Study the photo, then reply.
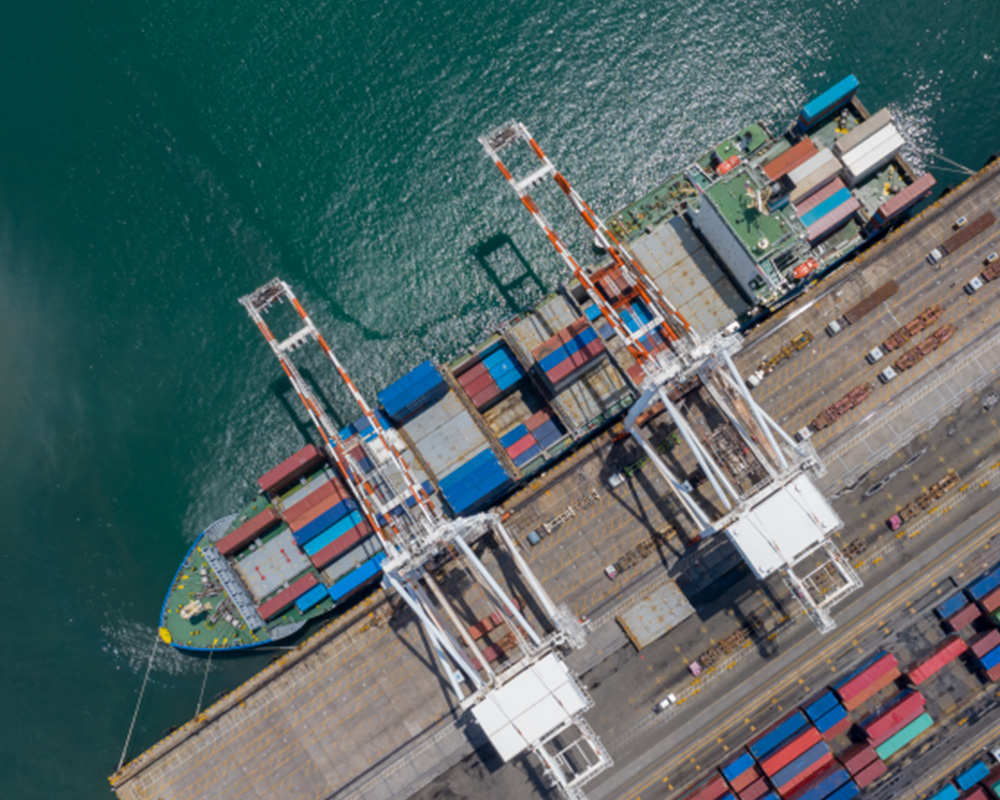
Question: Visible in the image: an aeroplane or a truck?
truck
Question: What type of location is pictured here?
port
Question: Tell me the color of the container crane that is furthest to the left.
white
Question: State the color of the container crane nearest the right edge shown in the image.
white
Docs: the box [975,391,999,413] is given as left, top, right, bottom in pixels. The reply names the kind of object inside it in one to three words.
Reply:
car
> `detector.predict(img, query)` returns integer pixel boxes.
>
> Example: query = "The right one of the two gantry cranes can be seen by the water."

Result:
[474,112,870,636]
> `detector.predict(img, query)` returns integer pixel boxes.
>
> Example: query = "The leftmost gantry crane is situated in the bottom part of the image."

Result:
[238,274,618,800]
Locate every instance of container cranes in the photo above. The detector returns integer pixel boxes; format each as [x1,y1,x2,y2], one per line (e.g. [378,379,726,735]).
[238,274,618,800]
[474,112,870,636]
